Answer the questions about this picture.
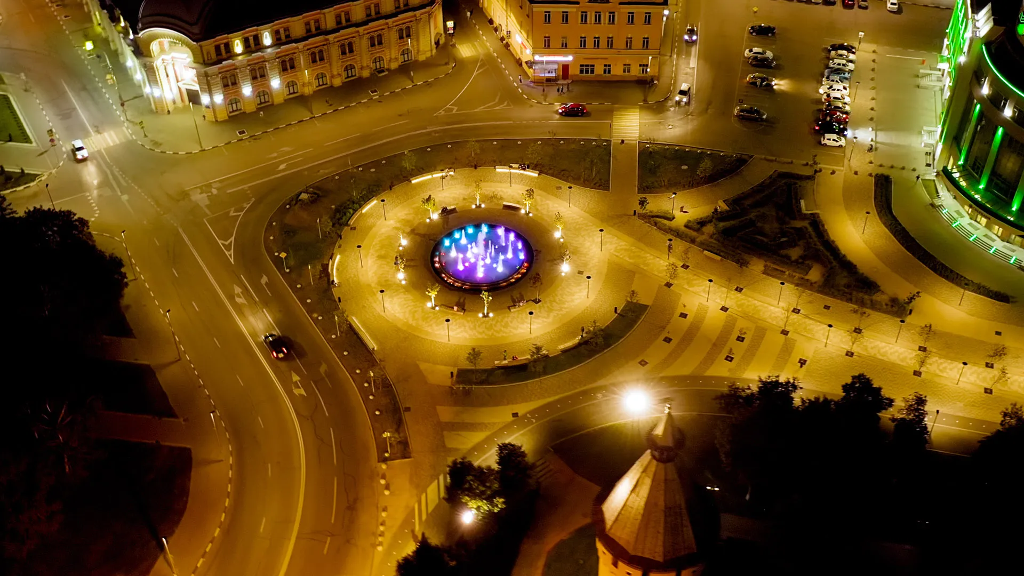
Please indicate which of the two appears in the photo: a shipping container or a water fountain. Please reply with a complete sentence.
It is a water fountain that can be seen here.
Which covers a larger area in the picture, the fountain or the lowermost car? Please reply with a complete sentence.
The larger object is the fountain, with the car being the smaller of the pair.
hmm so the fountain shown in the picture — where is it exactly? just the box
[429,219,534,292]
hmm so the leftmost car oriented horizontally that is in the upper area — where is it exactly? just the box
[559,104,589,117]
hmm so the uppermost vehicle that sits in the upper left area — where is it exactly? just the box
[69,136,88,161]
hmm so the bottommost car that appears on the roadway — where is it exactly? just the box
[263,331,288,359]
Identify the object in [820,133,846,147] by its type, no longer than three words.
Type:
car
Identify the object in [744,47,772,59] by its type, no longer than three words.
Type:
vehicle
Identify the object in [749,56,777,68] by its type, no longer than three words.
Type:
vehicle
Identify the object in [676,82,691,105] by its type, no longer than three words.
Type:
car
